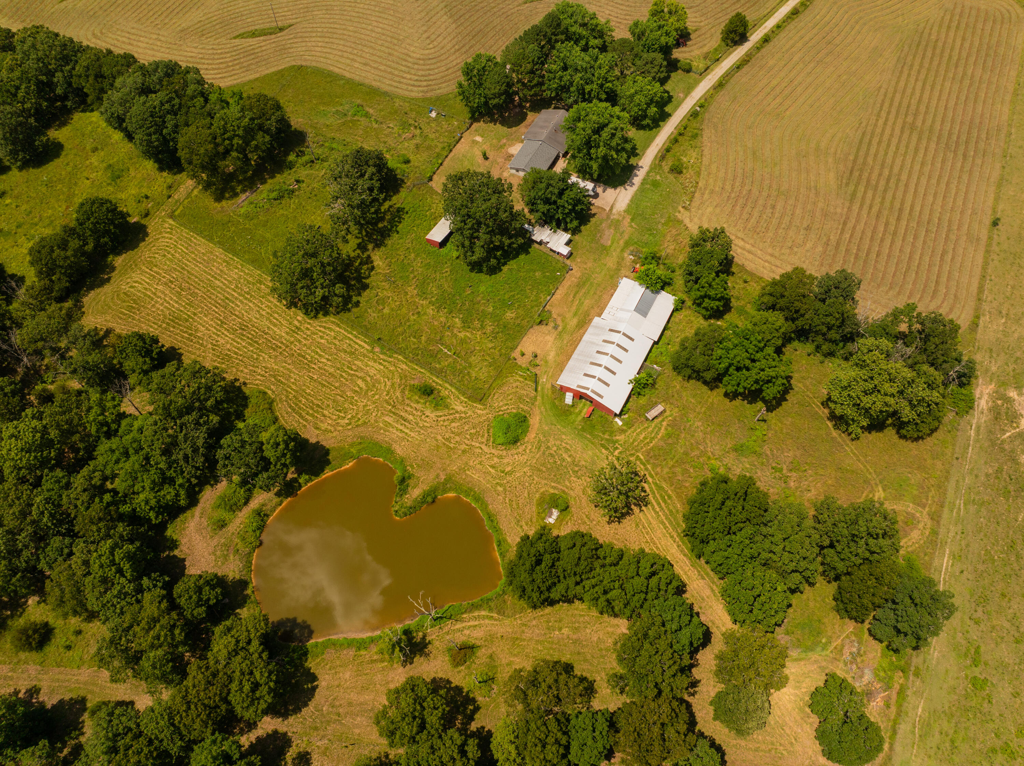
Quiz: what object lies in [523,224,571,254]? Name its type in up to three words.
shed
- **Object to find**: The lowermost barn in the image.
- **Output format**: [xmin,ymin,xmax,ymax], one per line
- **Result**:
[557,278,680,416]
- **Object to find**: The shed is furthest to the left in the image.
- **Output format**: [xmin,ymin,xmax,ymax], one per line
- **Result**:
[425,215,450,248]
